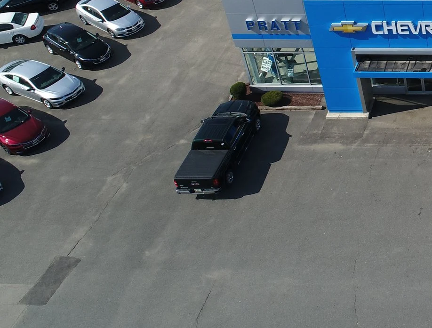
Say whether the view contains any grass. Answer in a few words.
No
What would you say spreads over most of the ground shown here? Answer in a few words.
paved ground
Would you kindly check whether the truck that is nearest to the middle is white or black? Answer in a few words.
black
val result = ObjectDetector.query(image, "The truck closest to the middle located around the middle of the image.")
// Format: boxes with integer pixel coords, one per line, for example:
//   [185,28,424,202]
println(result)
[171,102,261,198]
